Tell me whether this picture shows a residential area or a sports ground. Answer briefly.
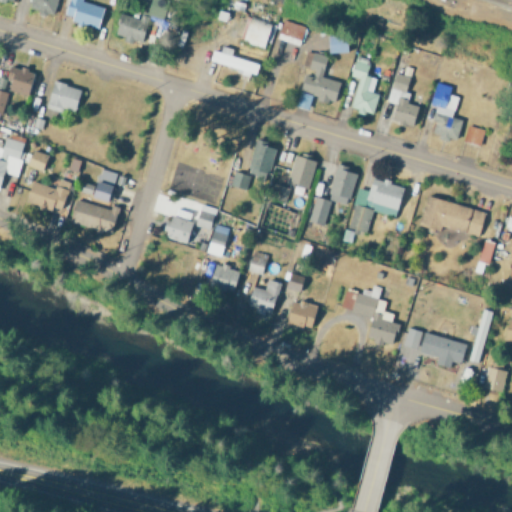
residential area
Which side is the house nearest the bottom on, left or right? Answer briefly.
right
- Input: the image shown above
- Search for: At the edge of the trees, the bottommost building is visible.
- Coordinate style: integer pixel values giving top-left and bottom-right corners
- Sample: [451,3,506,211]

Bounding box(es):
[488,368,510,393]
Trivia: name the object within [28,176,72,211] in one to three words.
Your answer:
house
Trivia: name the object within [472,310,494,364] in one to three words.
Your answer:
barn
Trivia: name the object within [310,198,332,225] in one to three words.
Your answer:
building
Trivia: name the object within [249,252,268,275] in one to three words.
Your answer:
building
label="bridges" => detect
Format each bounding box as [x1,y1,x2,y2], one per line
[354,412,404,512]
